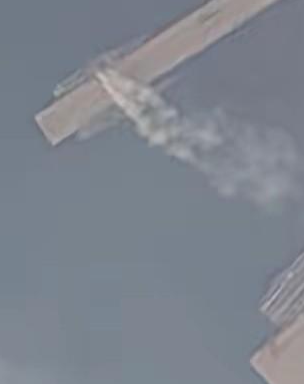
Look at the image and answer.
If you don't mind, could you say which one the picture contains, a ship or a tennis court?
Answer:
ship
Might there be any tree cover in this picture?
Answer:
No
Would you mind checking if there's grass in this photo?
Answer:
No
